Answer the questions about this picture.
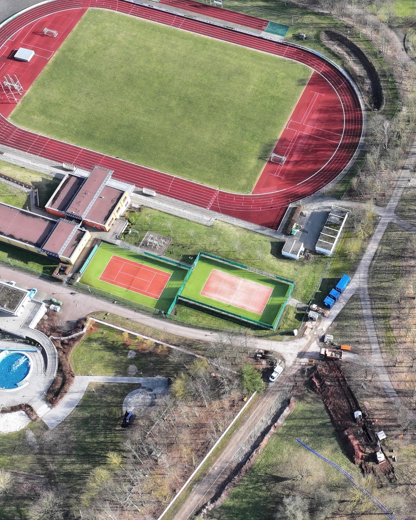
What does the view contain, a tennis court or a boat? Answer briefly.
tennis court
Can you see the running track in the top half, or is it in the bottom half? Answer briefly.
top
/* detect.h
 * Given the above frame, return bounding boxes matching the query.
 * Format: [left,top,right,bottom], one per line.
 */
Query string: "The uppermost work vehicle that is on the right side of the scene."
[311,301,328,314]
